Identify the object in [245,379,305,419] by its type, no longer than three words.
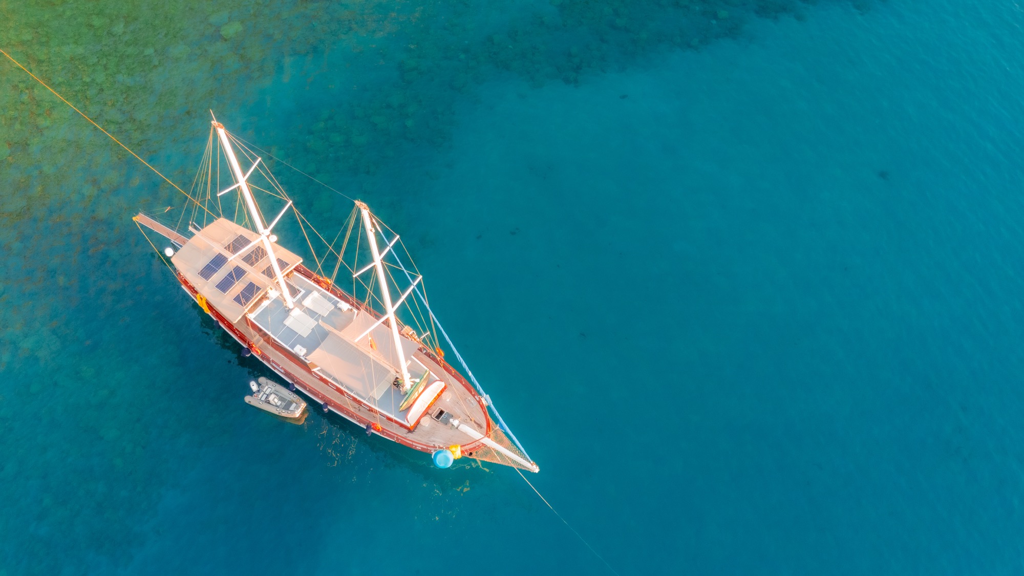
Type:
boat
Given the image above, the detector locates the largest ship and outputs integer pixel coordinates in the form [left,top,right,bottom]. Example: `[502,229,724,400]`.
[136,107,538,471]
